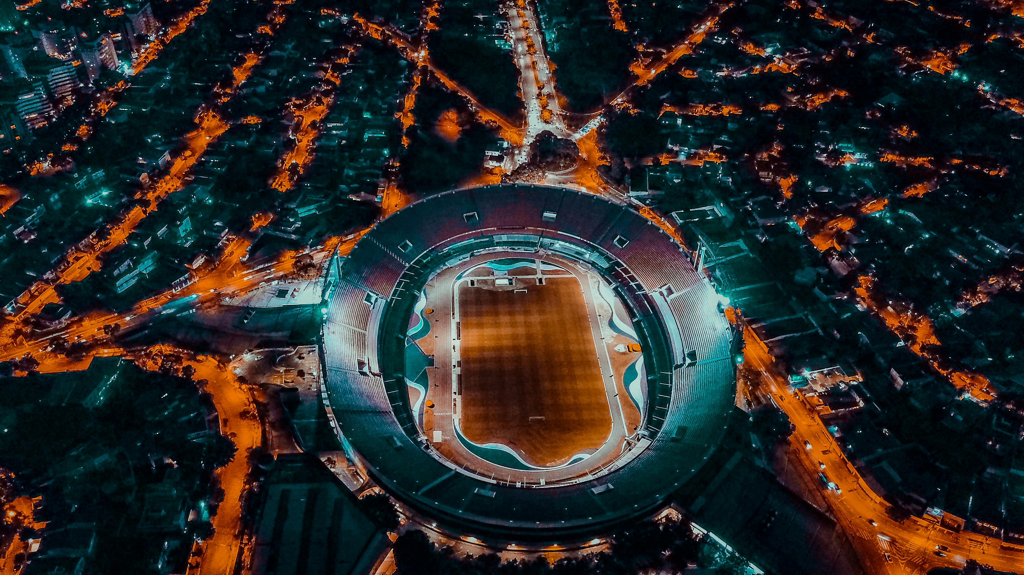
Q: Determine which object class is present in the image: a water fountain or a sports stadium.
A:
sports stadium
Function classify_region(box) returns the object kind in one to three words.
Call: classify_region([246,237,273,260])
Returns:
house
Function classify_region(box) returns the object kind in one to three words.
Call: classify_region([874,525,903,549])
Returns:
bus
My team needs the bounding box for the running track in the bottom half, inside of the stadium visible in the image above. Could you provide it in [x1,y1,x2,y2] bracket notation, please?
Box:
[434,254,624,474]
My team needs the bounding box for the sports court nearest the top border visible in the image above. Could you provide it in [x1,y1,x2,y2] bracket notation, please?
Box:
[672,201,725,223]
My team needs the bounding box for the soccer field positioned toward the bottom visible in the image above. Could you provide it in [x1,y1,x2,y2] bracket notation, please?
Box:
[451,260,612,467]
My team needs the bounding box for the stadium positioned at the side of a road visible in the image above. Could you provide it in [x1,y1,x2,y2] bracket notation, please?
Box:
[322,182,739,556]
